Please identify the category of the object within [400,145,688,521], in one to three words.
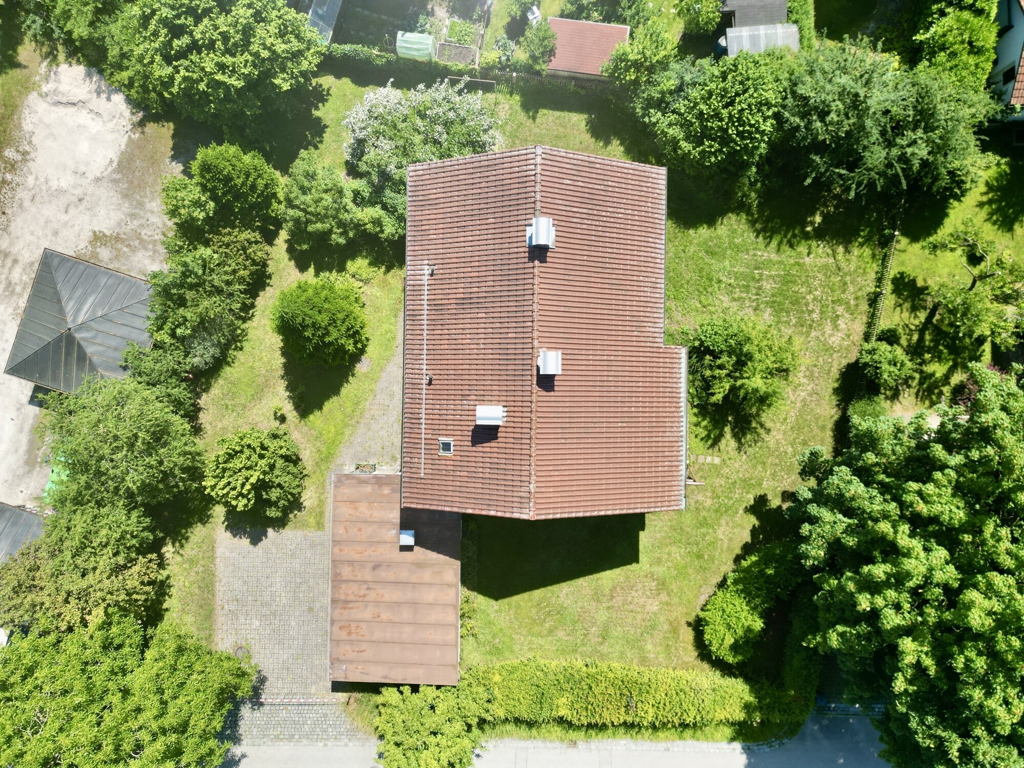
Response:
house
